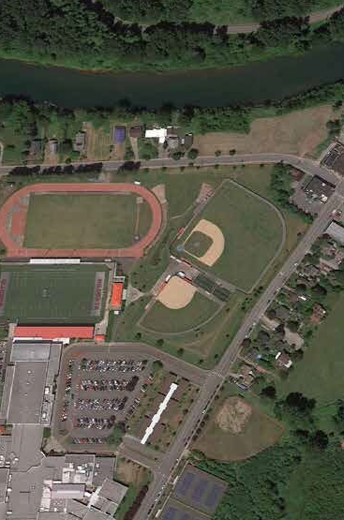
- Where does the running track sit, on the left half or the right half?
left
